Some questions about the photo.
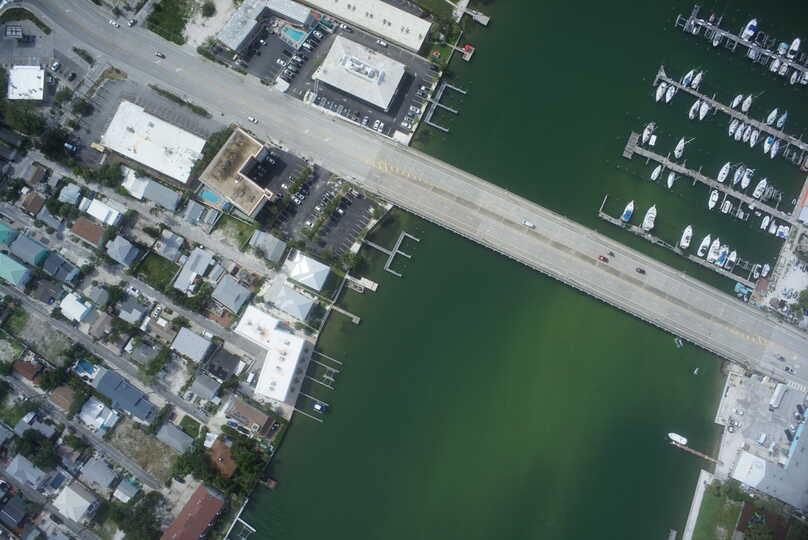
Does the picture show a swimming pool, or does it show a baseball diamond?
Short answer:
swimming pool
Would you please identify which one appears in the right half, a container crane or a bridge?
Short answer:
bridge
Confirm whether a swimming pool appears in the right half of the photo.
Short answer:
No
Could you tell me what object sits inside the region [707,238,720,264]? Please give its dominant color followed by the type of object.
white boat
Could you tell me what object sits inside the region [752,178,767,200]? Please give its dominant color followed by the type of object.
white boat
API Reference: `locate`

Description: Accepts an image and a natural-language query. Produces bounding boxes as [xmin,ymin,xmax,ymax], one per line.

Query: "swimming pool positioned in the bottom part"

[72,361,98,384]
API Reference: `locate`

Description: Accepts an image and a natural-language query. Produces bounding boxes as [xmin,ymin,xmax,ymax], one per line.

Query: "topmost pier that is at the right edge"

[675,3,808,72]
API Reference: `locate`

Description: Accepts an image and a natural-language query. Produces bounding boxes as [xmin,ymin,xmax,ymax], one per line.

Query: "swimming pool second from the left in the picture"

[194,182,235,216]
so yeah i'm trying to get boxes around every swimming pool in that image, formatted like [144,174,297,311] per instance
[194,182,235,216]
[72,361,98,384]
[279,22,311,48]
